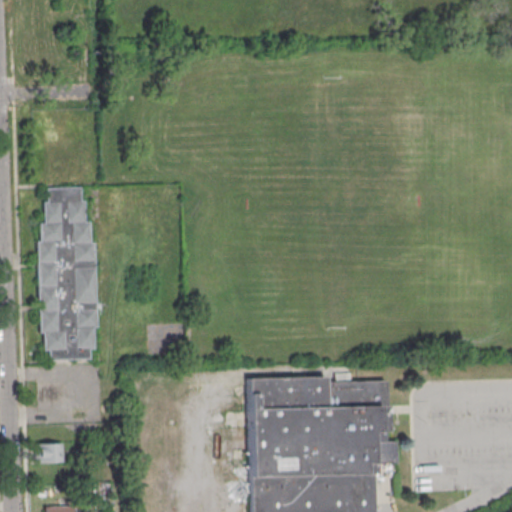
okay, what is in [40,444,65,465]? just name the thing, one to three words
house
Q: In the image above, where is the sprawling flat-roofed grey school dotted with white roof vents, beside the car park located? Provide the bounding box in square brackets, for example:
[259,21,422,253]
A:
[244,378,398,512]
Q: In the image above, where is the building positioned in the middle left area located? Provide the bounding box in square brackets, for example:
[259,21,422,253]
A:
[38,186,102,361]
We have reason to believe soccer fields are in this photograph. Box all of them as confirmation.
[249,78,415,328]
